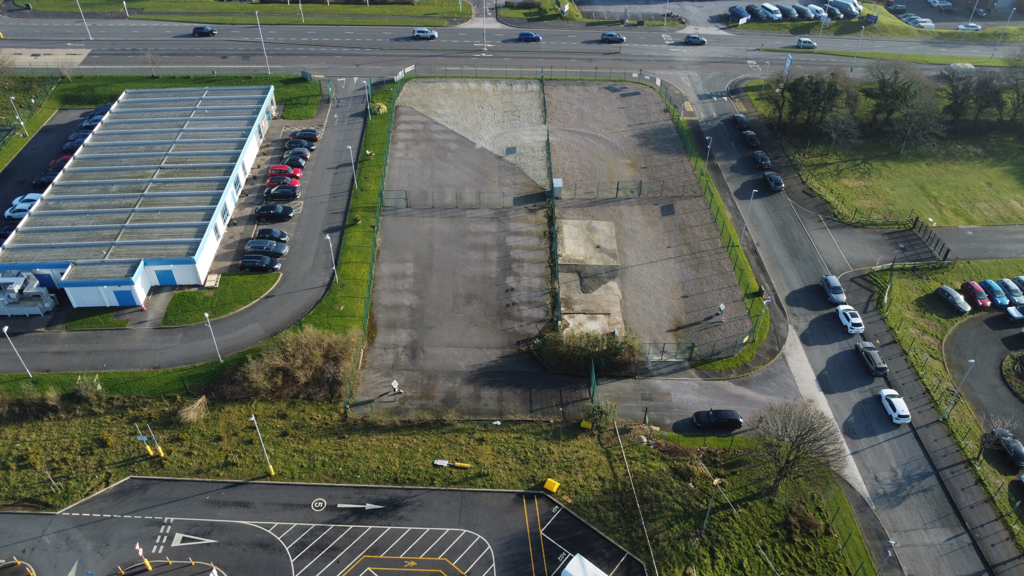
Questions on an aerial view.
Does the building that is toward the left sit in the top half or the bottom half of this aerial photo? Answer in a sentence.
The building that is toward the left sits in the top half of the picture.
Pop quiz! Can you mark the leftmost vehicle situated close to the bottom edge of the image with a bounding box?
[564,556,607,576]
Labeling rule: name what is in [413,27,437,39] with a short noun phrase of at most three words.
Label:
vehicle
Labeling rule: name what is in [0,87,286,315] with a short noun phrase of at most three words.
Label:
building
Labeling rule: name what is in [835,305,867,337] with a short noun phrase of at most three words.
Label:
car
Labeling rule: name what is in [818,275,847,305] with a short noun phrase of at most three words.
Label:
car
